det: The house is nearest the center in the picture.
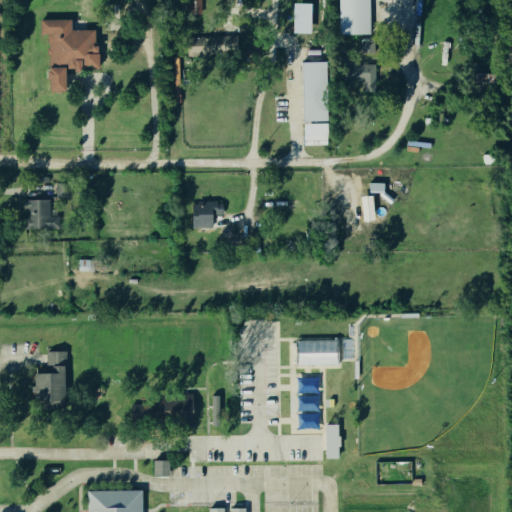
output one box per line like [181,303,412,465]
[193,202,224,228]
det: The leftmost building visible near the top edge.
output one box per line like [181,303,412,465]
[42,20,100,92]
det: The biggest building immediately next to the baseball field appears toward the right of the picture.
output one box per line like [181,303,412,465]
[298,340,340,366]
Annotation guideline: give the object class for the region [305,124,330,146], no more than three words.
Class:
building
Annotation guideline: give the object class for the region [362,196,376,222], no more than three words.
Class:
house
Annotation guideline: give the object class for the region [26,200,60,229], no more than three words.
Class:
house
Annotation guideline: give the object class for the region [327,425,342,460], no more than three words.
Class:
building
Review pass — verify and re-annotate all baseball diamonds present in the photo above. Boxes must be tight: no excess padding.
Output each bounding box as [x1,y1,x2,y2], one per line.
[360,317,496,455]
